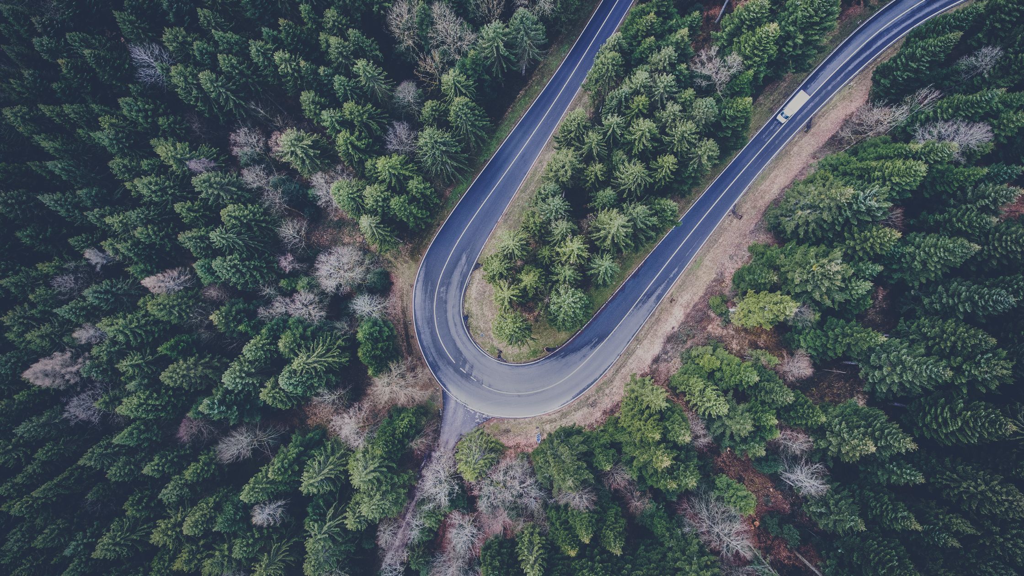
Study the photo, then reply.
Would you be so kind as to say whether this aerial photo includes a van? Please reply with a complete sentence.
Yes, this view includes a van.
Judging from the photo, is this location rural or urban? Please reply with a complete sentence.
The area shown here is rural.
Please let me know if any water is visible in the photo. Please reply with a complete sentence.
No, water can't be seen anywhere here.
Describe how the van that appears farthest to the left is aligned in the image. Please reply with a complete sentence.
In this picture, the van that appears farthest to the left is oriented diagonally.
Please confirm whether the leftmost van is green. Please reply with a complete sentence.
No, from above the leftmost van looks white.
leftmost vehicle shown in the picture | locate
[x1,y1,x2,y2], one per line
[775,88,813,125]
